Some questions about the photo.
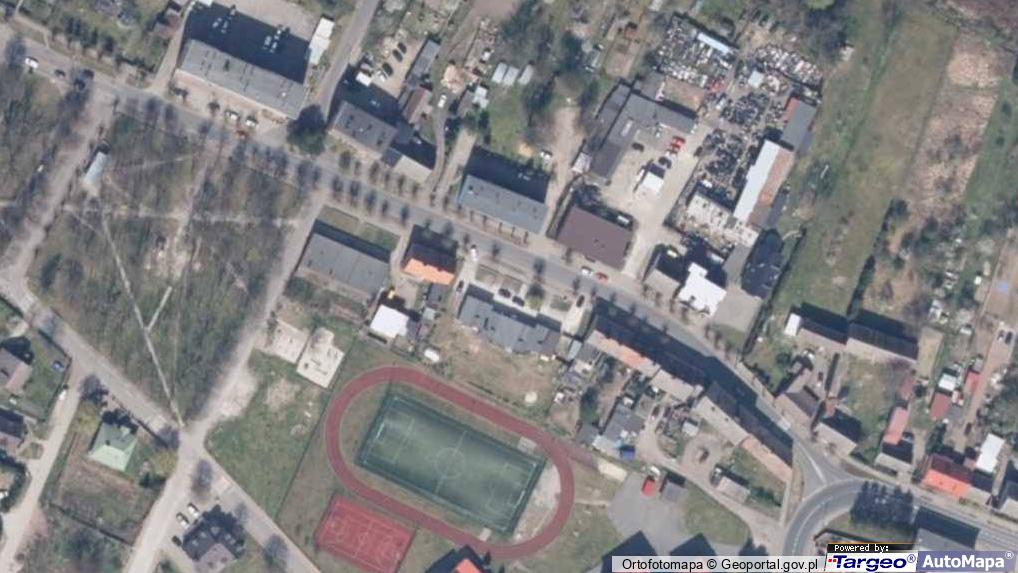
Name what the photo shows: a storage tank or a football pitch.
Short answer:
football pitch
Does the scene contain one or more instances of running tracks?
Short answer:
Yes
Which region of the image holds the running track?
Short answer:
bottom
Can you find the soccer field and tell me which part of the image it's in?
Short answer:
bottom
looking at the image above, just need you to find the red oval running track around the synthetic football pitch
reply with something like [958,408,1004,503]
[324,362,599,559]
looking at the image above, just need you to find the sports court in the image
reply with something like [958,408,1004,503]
[316,494,415,573]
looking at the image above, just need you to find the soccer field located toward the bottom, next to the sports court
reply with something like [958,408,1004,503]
[356,389,546,533]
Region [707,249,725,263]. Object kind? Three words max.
vehicle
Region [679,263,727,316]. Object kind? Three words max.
building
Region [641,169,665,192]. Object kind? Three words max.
shed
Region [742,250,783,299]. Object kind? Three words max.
house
